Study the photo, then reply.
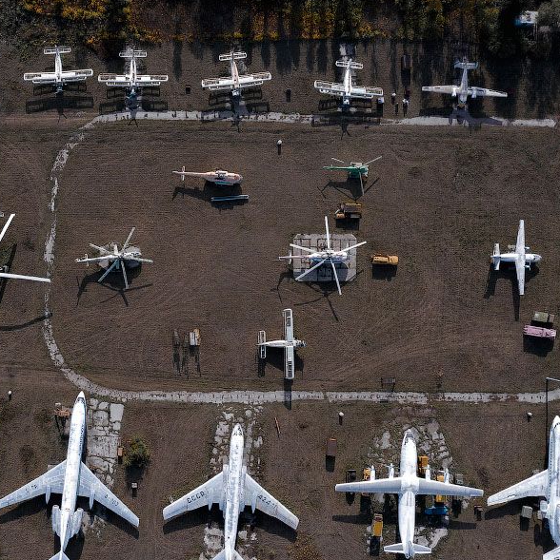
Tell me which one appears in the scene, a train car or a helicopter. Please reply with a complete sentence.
Visible in the photo is a helicopter.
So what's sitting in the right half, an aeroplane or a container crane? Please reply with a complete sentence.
The one visible in the right half is an aeroplane.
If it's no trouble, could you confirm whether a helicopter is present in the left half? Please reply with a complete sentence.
Yes, there is a helicopter in the left half.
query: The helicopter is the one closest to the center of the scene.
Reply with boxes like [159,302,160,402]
[277,216,368,295]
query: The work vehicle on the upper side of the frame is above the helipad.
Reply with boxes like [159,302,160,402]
[336,204,363,220]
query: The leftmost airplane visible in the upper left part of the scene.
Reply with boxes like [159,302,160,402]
[22,47,92,91]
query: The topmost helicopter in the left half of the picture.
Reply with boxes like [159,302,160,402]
[171,167,242,185]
